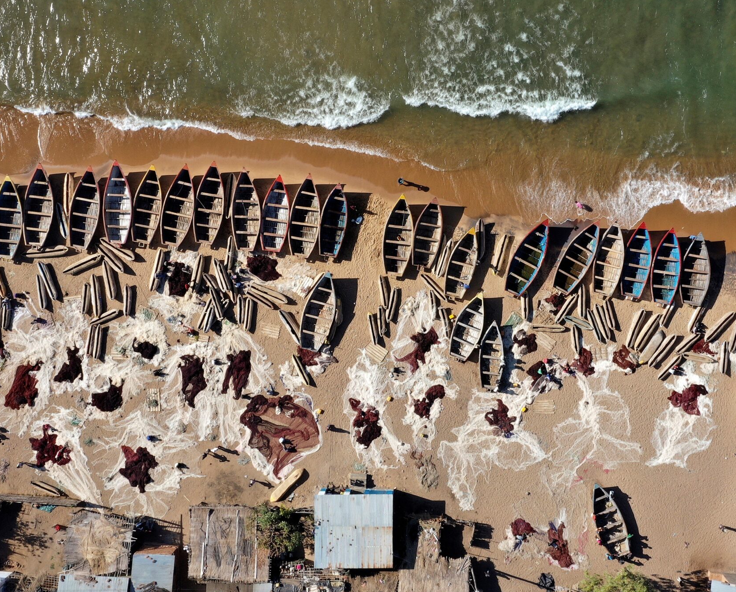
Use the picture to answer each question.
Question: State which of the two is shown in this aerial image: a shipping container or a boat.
boat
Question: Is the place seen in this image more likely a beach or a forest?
beach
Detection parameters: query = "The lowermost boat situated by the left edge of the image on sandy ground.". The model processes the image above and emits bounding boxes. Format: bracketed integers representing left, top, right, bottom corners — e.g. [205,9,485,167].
[30,479,61,497]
